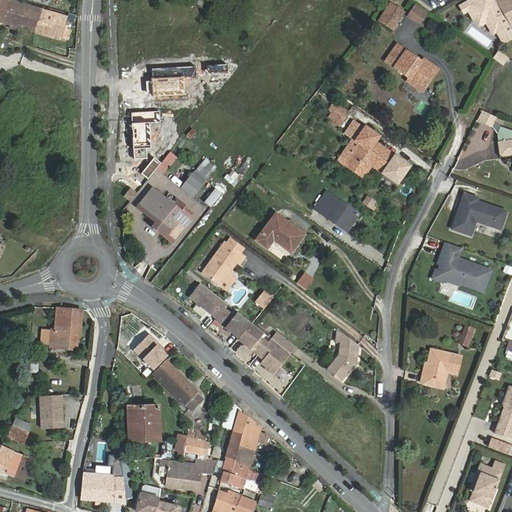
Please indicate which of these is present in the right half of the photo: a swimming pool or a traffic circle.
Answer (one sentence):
There is a swimming pool in the right half of the photo.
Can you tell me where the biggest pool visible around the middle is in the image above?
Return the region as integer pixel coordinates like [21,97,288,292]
[225,280,254,308]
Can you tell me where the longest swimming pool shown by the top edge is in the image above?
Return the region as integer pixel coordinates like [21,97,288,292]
[464,23,496,50]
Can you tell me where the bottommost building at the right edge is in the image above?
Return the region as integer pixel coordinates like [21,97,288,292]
[470,460,506,512]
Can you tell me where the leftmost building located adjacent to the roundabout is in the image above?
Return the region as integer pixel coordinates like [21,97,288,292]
[48,307,83,351]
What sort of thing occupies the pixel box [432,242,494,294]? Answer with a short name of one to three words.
house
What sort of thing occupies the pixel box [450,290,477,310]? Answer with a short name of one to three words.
swimming pool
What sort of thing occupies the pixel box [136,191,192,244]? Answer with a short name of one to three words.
building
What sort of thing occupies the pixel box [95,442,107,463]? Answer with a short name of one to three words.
swimming pool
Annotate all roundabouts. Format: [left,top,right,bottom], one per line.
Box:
[50,225,117,298]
